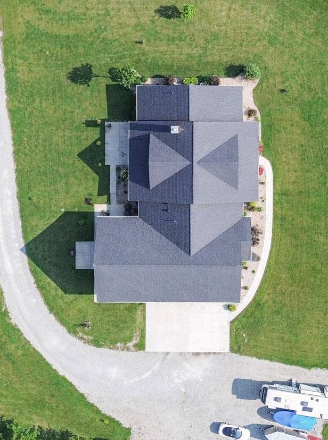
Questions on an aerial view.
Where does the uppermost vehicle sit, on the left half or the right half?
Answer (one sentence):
The uppermost vehicle is on the right side of the image.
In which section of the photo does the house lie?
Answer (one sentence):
Look in the center portion of the view to spot the house.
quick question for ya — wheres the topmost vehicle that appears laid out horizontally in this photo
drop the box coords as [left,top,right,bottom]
[257,378,328,419]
